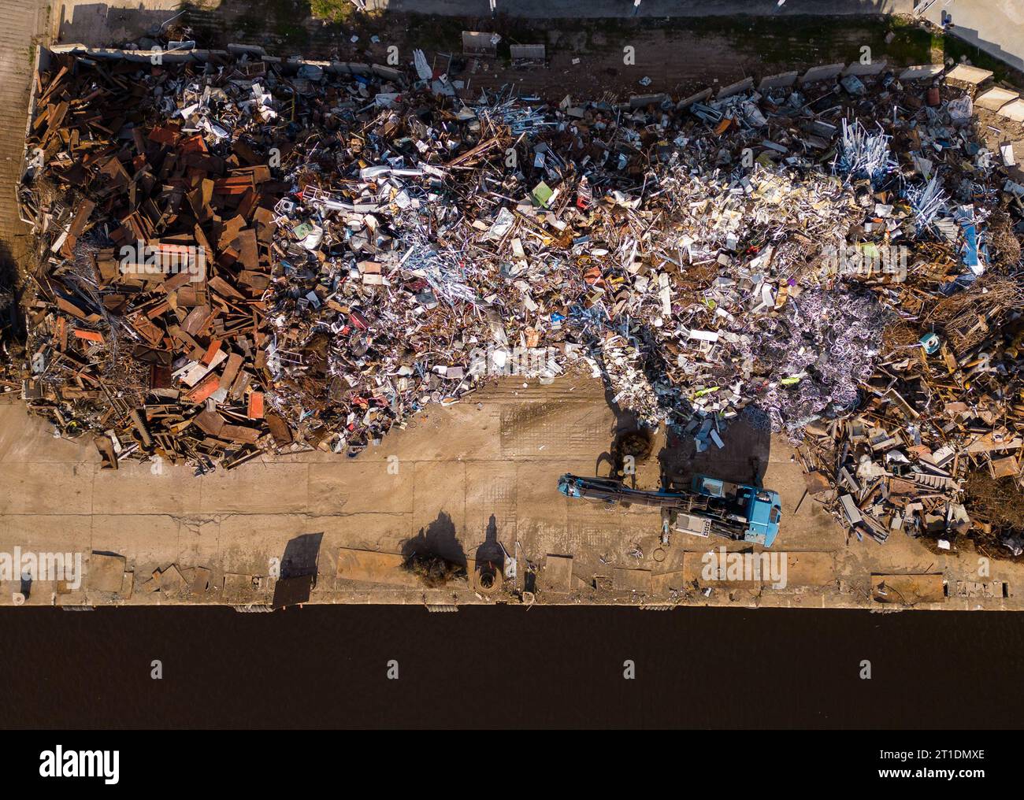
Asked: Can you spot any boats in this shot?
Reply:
No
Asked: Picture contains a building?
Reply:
No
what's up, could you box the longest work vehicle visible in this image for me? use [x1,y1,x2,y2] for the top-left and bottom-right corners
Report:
[552,456,782,549]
